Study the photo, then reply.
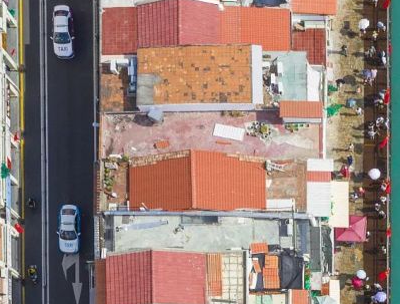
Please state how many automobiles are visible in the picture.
two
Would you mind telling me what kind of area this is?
residential area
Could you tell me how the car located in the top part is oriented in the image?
vertically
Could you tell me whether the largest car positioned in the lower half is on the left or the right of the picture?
left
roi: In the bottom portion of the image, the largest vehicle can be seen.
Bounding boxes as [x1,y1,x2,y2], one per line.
[57,204,84,255]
